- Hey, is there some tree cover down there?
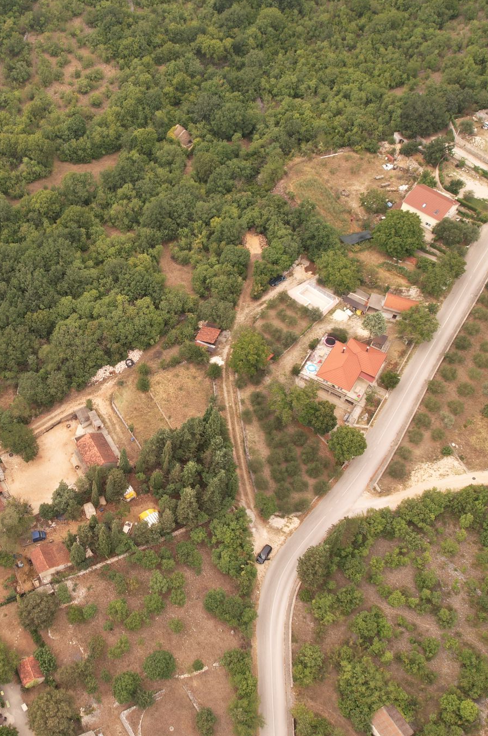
Yes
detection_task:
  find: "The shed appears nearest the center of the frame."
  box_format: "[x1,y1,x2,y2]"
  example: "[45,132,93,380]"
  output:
[195,324,220,352]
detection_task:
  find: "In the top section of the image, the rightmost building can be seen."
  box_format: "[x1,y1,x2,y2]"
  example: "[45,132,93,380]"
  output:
[401,184,458,237]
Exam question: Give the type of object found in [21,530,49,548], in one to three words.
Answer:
vehicle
